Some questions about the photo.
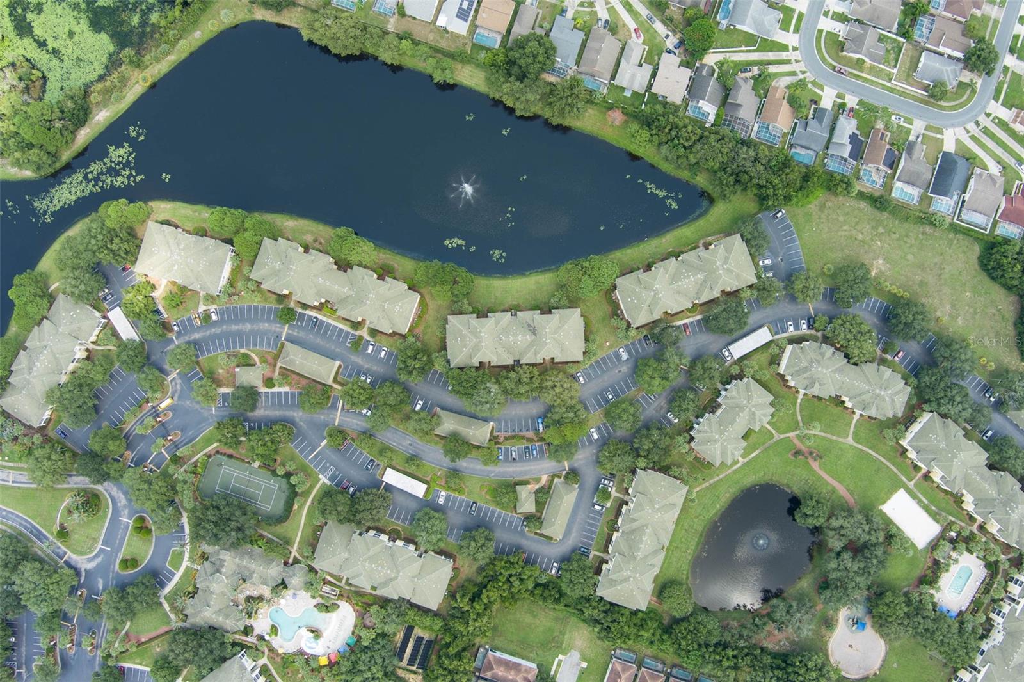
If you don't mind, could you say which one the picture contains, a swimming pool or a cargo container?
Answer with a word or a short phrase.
swimming pool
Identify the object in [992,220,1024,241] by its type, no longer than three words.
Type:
swimming pool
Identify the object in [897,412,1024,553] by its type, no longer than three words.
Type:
building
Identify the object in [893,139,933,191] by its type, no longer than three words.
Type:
house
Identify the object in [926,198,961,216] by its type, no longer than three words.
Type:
swimming pool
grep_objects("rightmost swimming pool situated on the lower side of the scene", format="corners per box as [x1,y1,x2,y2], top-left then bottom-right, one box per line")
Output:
[938,552,990,613]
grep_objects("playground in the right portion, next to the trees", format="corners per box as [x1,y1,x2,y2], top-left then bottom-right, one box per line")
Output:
[828,605,888,679]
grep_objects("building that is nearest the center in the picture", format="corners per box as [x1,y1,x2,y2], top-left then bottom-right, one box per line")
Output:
[447,305,586,367]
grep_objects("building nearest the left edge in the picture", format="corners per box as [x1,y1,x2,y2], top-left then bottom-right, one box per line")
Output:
[0,292,113,426]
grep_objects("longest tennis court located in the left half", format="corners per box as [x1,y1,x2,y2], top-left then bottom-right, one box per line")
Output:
[197,454,289,523]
